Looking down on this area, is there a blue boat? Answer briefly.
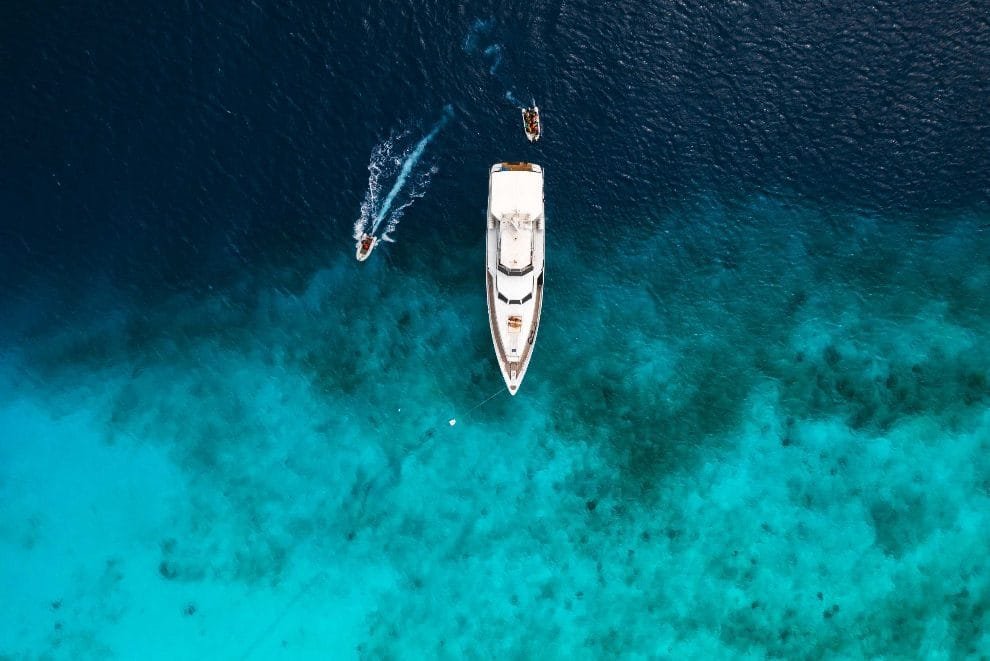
No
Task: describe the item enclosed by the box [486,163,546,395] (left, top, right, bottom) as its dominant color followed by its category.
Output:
white boat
